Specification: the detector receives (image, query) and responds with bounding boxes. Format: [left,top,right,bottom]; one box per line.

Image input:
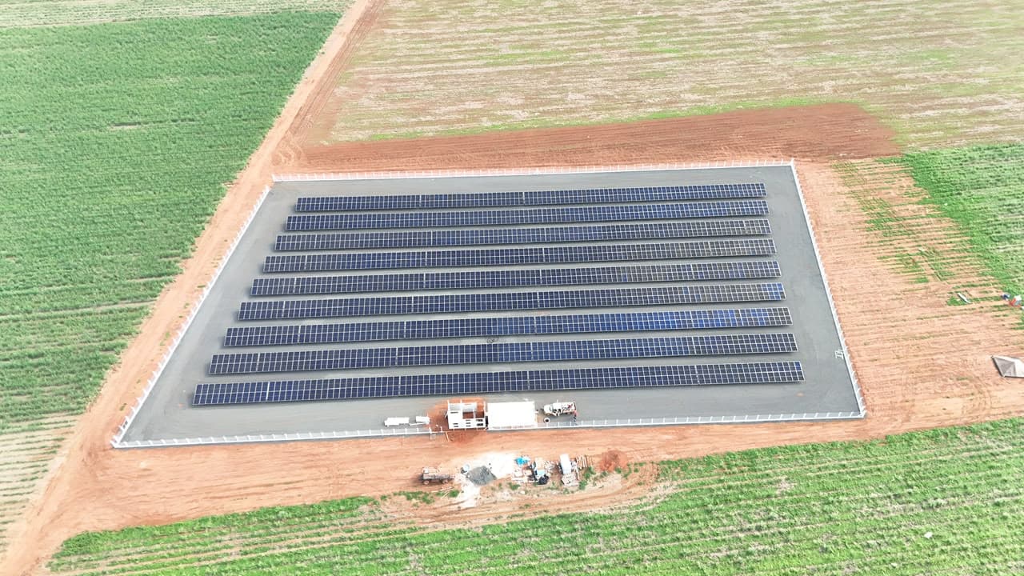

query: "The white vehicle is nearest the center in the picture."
[542,399,575,417]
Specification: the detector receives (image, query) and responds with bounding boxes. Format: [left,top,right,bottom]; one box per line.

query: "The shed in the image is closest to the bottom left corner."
[448,397,485,428]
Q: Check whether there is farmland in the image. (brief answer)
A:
Yes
